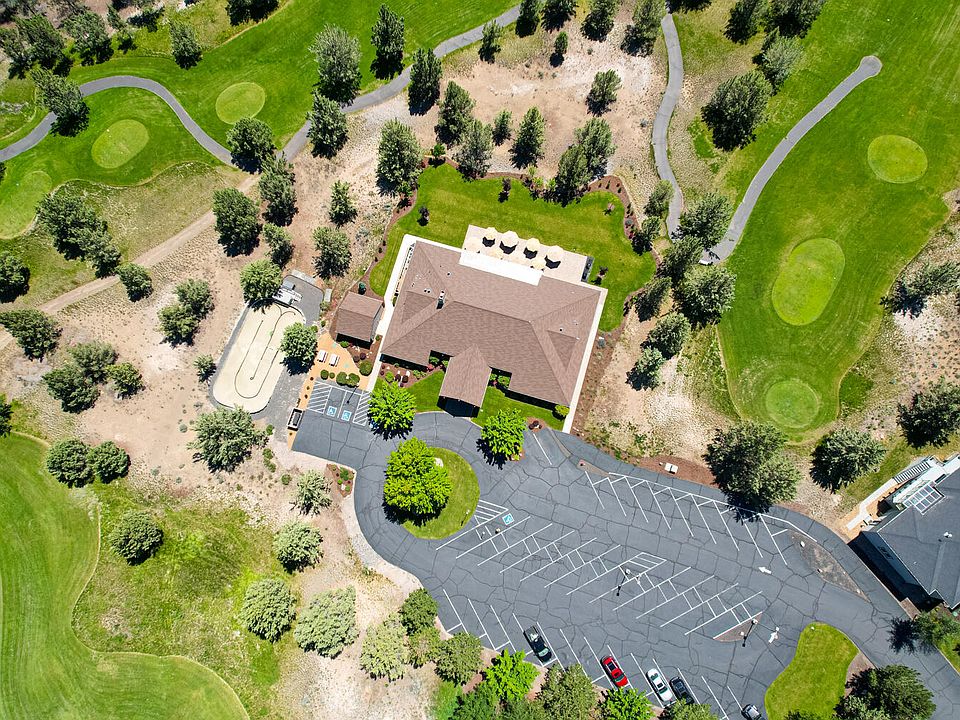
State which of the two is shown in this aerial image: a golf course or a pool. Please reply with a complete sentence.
It is a golf course that can be seen here.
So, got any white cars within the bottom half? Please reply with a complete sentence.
Yes, the scene does show a white car within the bottom half.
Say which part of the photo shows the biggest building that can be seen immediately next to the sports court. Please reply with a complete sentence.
The biggest building that can be seen immediately next to the sports court sits in the center section of the image.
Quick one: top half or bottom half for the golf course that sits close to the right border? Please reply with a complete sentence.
It is in the top half that the golf course that sits close to the right border appears.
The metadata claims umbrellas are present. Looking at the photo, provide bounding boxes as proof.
[501,230,518,248]
[531,258,545,271]
[546,243,564,262]
[484,227,497,241]
[465,237,482,253]
[489,247,503,260]
[525,236,540,251]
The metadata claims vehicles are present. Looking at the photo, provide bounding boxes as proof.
[602,654,627,686]
[522,624,551,663]
[670,675,695,707]
[743,702,765,720]
[647,668,673,702]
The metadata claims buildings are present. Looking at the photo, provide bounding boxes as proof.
[337,292,382,341]
[862,444,960,608]
[381,240,603,408]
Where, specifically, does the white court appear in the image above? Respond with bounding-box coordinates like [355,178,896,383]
[206,274,324,442]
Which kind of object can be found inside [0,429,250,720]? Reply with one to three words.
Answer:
golf course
